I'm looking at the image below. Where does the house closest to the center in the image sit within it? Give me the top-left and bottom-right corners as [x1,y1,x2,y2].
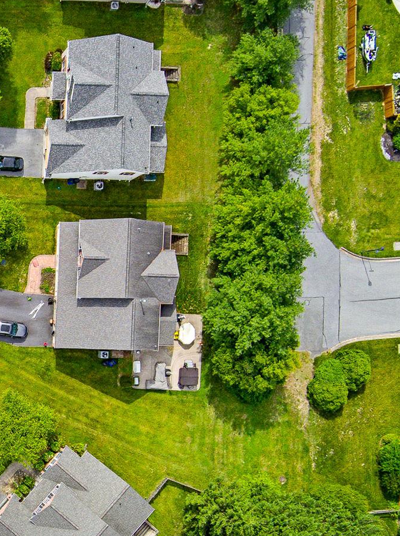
[52,217,184,353]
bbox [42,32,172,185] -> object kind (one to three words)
house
